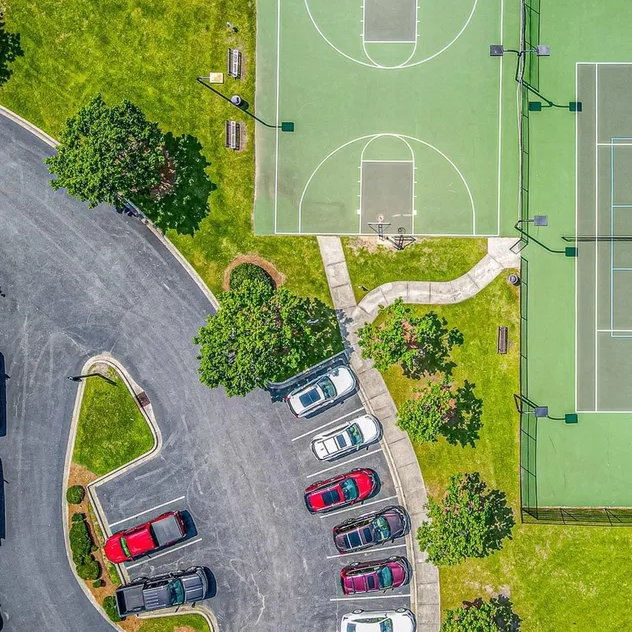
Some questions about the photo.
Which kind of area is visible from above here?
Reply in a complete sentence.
The area seen from above is a sports ground.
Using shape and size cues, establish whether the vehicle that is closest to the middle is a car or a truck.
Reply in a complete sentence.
The vehicle that is closest to the middle is a car.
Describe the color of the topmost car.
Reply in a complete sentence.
The topmost car is white.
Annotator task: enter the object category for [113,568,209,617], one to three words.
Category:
truck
